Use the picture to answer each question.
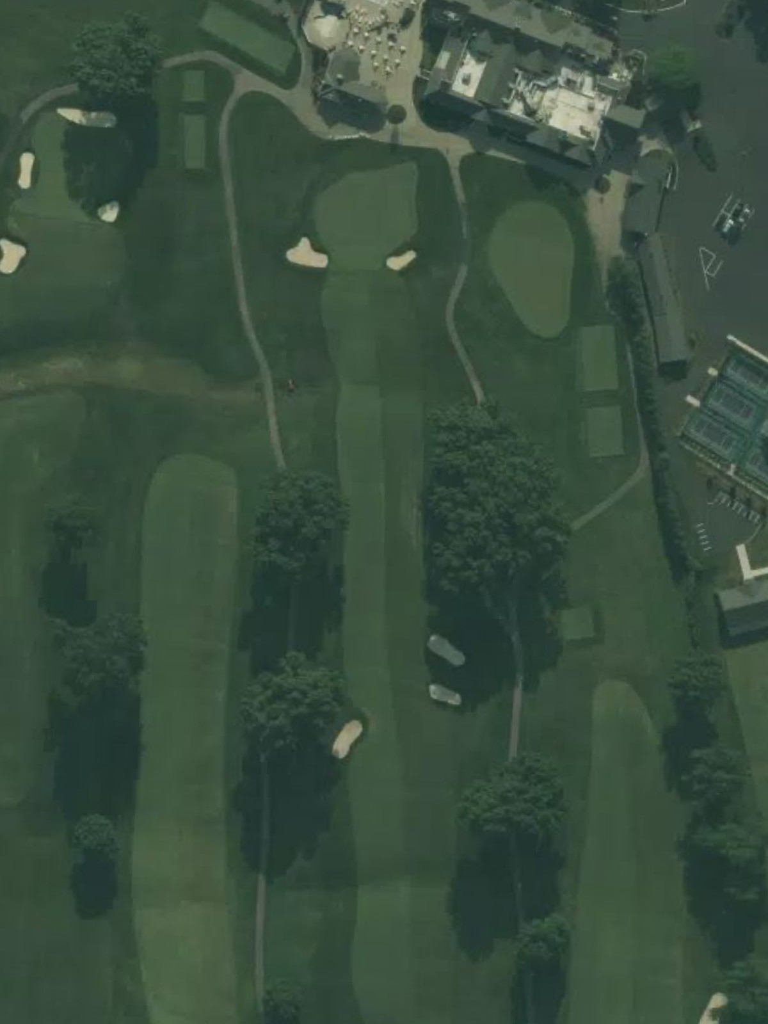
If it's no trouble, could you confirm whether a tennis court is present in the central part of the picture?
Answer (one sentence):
No, no tennis court can be made out in the central part of the picture.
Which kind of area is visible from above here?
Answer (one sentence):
The area seen from above is a golf course.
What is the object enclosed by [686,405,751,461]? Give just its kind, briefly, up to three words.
tennis court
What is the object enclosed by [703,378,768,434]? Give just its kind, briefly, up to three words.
tennis court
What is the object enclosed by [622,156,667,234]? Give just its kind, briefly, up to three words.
building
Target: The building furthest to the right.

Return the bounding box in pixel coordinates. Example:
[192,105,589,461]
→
[720,583,768,630]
